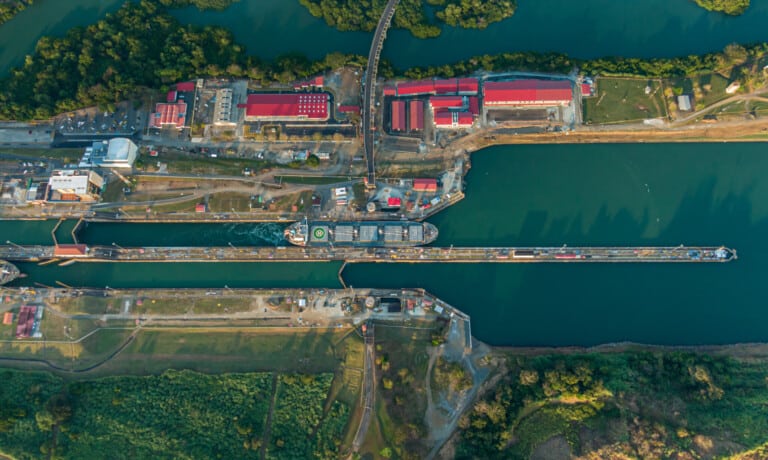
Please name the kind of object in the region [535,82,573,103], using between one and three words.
building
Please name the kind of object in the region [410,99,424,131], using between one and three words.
shed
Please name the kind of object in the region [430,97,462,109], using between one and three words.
building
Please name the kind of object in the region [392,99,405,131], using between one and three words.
shed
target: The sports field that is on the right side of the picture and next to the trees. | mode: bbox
[584,78,670,124]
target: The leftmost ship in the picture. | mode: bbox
[0,260,28,284]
